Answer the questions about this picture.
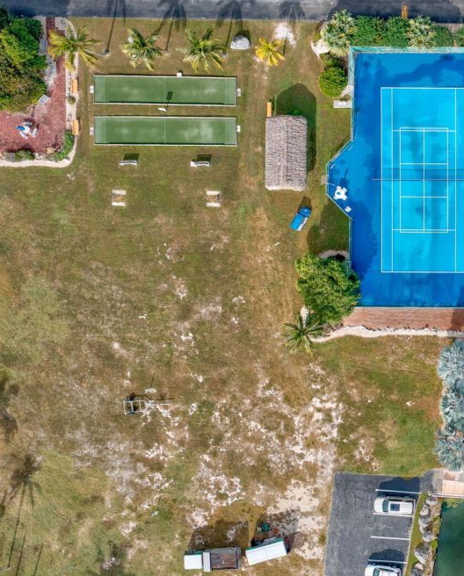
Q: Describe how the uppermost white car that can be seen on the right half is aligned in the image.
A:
from side to side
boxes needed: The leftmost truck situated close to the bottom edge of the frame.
[183,550,239,575]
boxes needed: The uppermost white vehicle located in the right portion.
[374,495,415,515]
